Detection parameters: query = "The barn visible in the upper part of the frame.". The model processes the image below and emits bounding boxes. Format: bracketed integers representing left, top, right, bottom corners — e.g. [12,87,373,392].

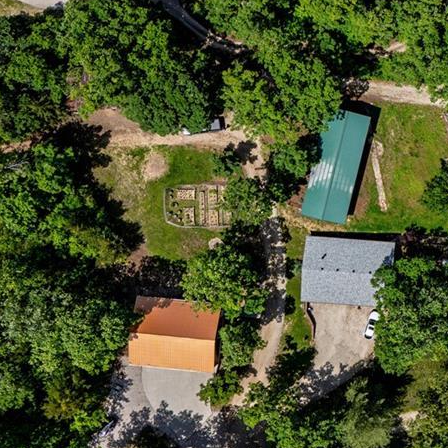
[302,111,370,223]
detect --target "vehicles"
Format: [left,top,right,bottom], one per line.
[362,310,379,342]
[182,118,223,138]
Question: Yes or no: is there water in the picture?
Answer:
No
